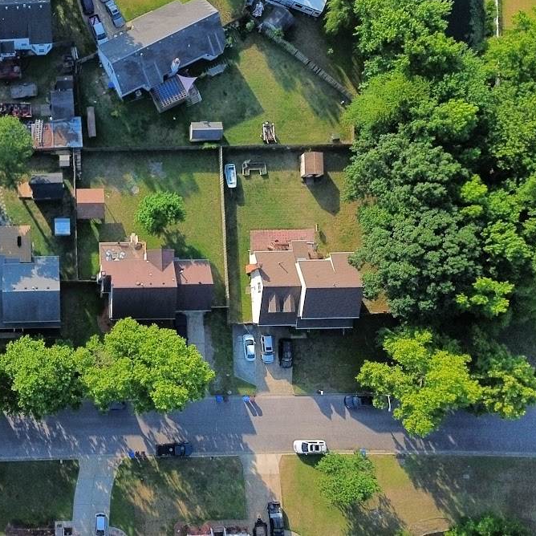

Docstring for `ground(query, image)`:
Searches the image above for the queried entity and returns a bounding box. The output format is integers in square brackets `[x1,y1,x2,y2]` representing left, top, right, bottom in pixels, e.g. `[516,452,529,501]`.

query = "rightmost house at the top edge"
[97,0,231,108]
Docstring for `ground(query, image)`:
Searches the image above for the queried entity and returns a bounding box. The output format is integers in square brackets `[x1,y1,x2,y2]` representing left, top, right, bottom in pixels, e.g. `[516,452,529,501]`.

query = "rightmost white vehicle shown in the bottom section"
[292,439,329,456]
